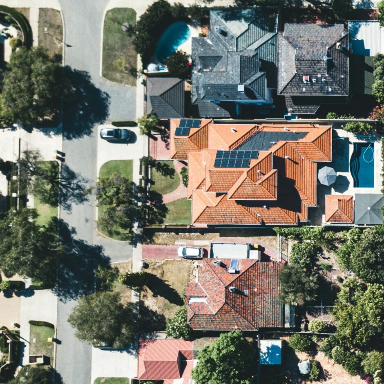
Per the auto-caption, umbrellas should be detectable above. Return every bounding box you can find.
[354,194,384,224]
[319,167,336,185]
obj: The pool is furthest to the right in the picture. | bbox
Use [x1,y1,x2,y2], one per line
[348,140,376,189]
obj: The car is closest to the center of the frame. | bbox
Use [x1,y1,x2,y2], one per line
[178,245,205,258]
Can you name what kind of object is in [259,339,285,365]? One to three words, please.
shed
